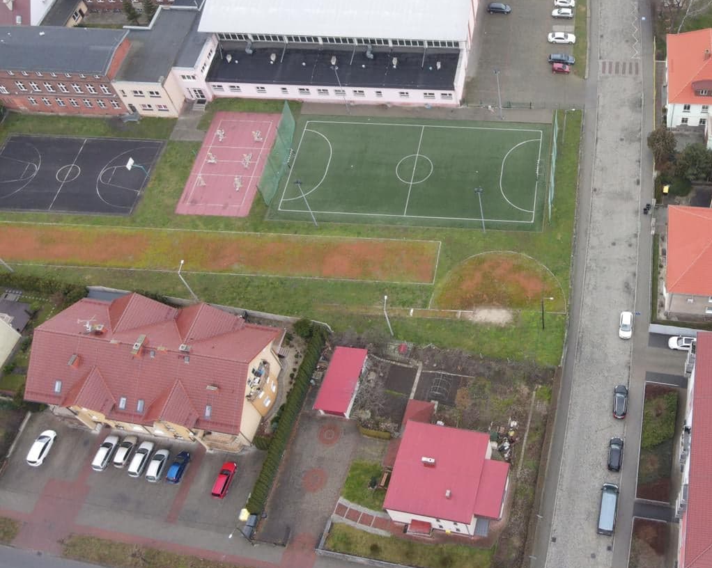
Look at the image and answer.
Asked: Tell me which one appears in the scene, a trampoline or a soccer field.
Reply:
soccer field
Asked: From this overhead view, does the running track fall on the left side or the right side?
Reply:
left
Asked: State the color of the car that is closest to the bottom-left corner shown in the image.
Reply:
white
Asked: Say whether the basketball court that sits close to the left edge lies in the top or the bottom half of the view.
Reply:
top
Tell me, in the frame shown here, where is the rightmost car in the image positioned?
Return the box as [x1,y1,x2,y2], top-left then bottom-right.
[668,334,692,351]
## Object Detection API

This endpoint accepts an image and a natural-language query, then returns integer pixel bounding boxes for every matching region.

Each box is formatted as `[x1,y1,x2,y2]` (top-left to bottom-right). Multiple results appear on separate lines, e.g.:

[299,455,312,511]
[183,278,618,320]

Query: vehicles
[619,310,634,339]
[23,432,59,466]
[548,52,574,64]
[85,434,124,472]
[549,32,575,44]
[122,441,159,479]
[606,434,625,472]
[599,483,618,532]
[552,7,574,18]
[161,450,195,485]
[668,334,692,351]
[551,62,574,74]
[205,460,242,501]
[107,434,142,469]
[139,448,174,483]
[554,0,575,7]
[612,383,629,418]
